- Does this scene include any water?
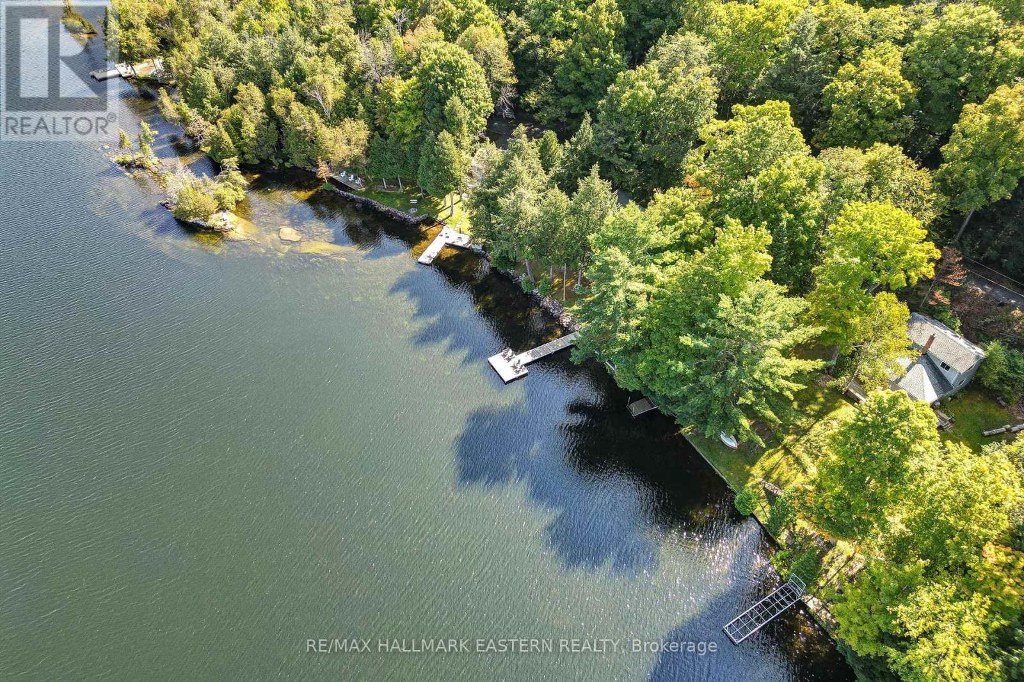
Yes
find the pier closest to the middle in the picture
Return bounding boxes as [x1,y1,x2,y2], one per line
[489,330,592,385]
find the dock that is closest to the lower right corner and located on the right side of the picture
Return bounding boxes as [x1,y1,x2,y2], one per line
[723,571,813,648]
